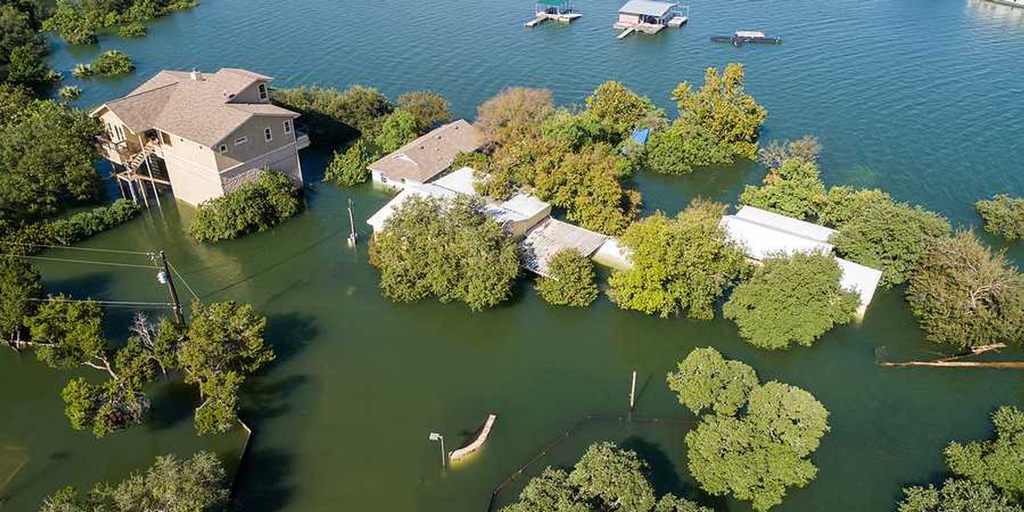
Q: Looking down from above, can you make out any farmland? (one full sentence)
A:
No, no farmland is visible.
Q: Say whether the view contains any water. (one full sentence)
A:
Yes, there's water in this view.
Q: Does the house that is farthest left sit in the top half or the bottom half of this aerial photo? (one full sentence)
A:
The house that is farthest left is in the top half of the image.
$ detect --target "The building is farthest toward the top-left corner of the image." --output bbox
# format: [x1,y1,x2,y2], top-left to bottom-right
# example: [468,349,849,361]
[87,66,312,214]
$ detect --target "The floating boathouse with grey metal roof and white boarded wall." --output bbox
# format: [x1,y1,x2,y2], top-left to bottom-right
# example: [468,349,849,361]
[612,0,696,37]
